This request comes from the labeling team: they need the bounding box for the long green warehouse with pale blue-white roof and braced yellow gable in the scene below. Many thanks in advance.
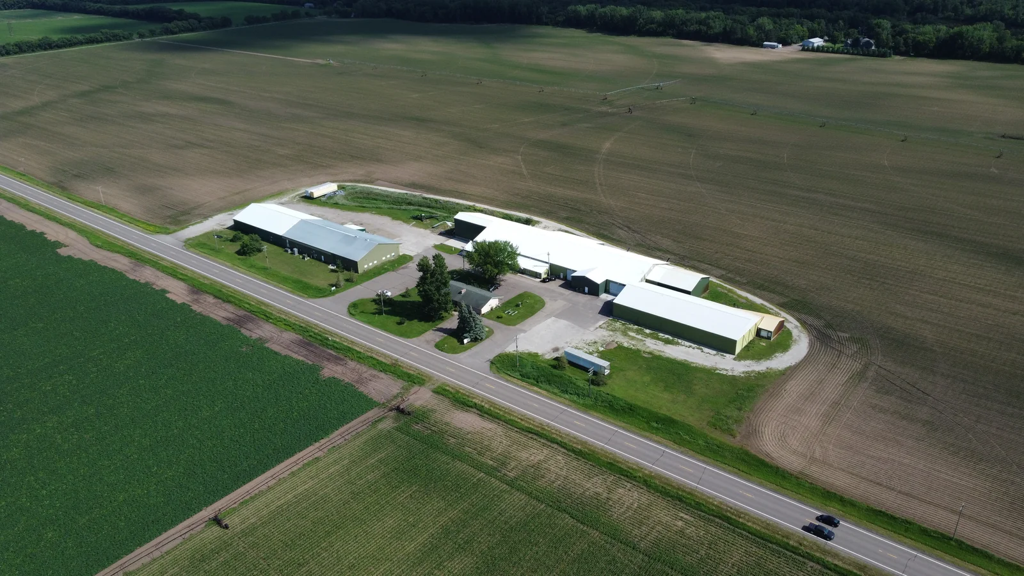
[612,281,787,356]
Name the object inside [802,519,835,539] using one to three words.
vehicle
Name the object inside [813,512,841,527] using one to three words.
car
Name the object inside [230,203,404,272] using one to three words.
barn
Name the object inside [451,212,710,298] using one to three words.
shed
